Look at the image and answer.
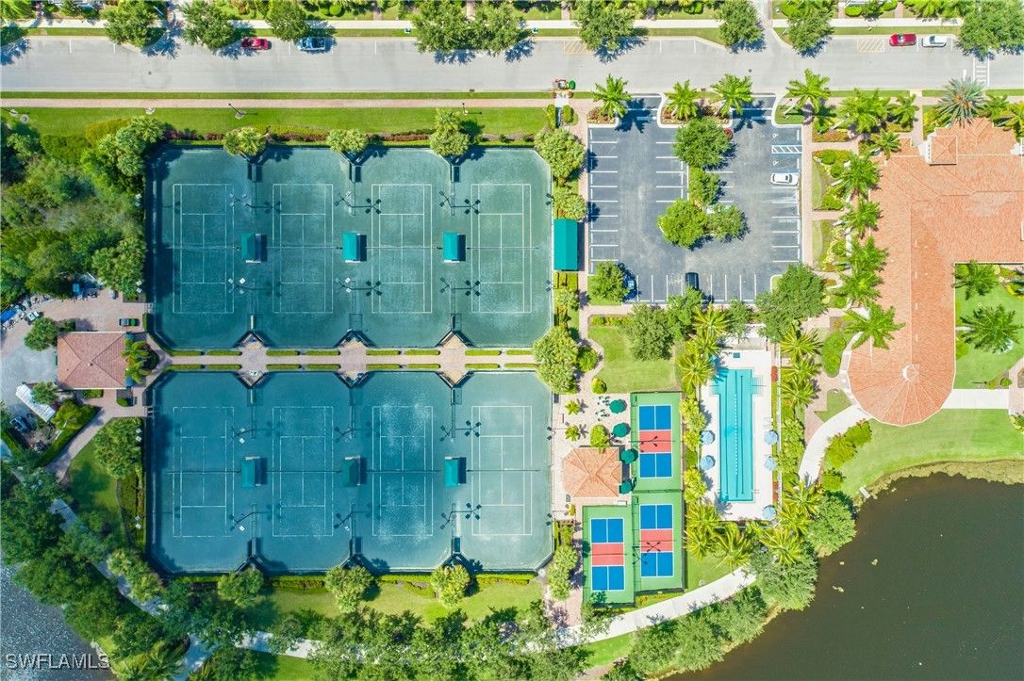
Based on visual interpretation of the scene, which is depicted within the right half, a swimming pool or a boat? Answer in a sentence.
What appears within the right half is a swimming pool.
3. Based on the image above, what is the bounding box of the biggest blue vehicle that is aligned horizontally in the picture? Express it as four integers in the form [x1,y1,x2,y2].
[298,37,327,51]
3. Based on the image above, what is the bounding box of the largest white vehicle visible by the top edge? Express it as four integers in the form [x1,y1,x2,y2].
[921,34,946,48]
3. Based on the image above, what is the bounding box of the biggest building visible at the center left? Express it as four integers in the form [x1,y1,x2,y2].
[57,331,132,389]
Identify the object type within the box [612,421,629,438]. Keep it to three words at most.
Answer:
umbrella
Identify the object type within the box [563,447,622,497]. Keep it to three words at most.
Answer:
building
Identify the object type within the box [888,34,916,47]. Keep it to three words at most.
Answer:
vehicle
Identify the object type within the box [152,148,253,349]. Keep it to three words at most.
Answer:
tennis court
